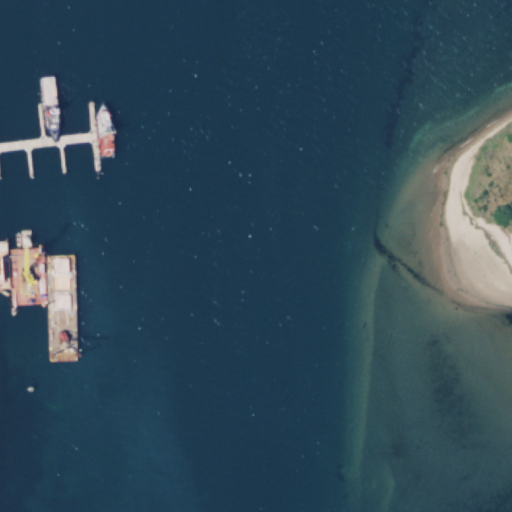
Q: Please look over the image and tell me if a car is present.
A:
No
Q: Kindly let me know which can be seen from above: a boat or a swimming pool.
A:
boat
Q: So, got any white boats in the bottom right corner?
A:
No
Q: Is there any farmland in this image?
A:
No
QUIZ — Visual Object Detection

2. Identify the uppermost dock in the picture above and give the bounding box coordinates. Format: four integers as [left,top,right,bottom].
[0,102,100,178]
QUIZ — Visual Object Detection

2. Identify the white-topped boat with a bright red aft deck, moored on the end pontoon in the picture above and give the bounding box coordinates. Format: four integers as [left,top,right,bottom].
[94,104,117,164]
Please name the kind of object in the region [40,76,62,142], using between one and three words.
boat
